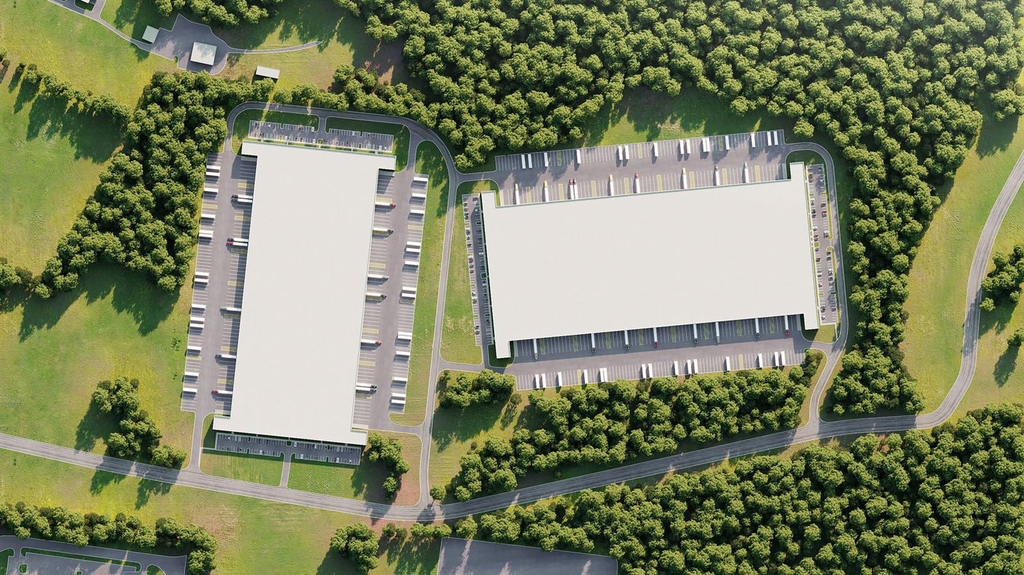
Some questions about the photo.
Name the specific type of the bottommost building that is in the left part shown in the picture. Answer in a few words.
warehouse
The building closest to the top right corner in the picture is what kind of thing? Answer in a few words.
warehouse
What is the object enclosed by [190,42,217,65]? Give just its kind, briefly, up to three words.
barn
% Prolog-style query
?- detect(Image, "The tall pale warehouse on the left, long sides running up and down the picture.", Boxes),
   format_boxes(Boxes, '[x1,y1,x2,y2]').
[213,140,397,445]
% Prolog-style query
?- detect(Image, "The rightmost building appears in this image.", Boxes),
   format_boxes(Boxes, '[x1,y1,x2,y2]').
[481,162,819,358]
